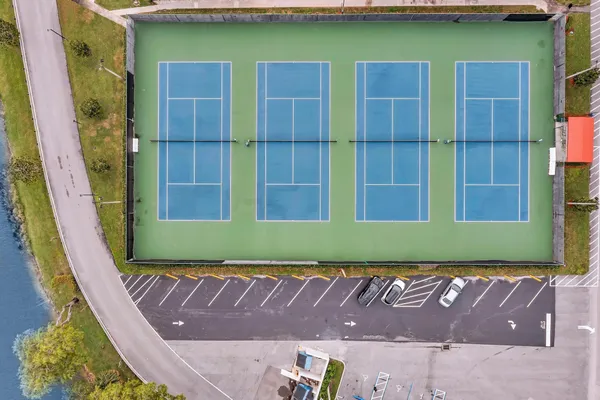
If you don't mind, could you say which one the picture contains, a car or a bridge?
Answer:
car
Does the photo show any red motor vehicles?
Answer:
No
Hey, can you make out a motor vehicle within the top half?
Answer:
No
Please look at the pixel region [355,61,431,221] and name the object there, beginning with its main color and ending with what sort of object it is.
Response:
blue tennis court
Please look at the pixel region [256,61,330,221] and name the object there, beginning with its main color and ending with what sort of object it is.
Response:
blue tennis court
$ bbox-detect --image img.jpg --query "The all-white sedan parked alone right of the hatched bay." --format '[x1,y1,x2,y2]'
[438,276,465,307]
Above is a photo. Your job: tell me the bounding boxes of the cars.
[380,277,405,307]
[357,275,384,306]
[438,276,465,307]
